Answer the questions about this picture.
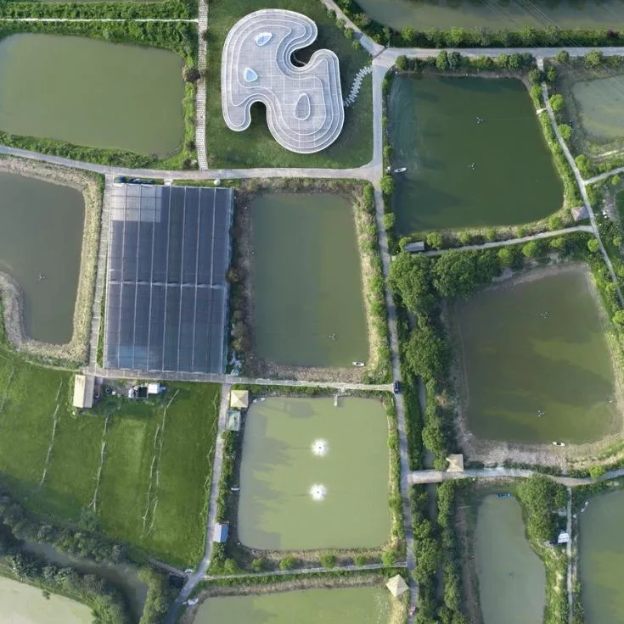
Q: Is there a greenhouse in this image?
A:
Yes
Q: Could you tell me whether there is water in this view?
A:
Yes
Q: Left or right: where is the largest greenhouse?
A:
left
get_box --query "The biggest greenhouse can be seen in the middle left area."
[104,183,236,375]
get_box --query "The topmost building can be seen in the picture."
[221,8,345,153]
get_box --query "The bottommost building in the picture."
[385,571,410,596]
